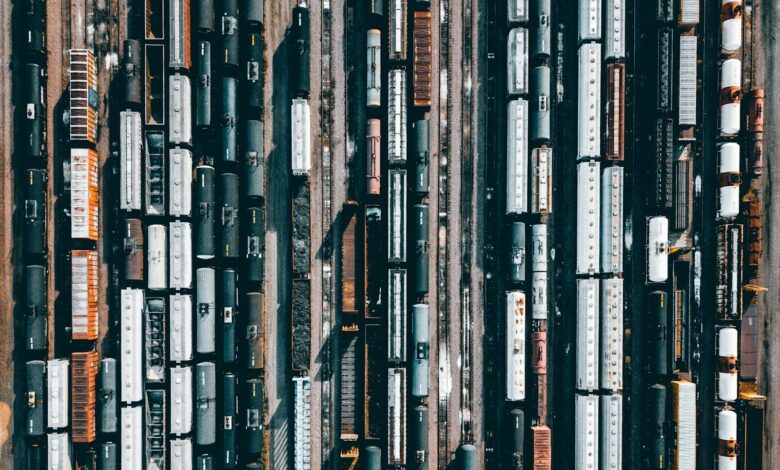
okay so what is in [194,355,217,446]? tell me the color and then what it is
gray rail car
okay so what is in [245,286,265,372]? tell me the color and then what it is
gray rail car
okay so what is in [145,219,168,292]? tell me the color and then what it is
white rail car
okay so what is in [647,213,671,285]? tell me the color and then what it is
white rail car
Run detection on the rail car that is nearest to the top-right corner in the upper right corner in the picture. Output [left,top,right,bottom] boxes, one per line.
[720,0,746,57]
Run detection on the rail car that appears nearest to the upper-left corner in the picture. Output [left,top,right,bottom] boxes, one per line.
[21,0,45,59]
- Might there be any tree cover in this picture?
No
